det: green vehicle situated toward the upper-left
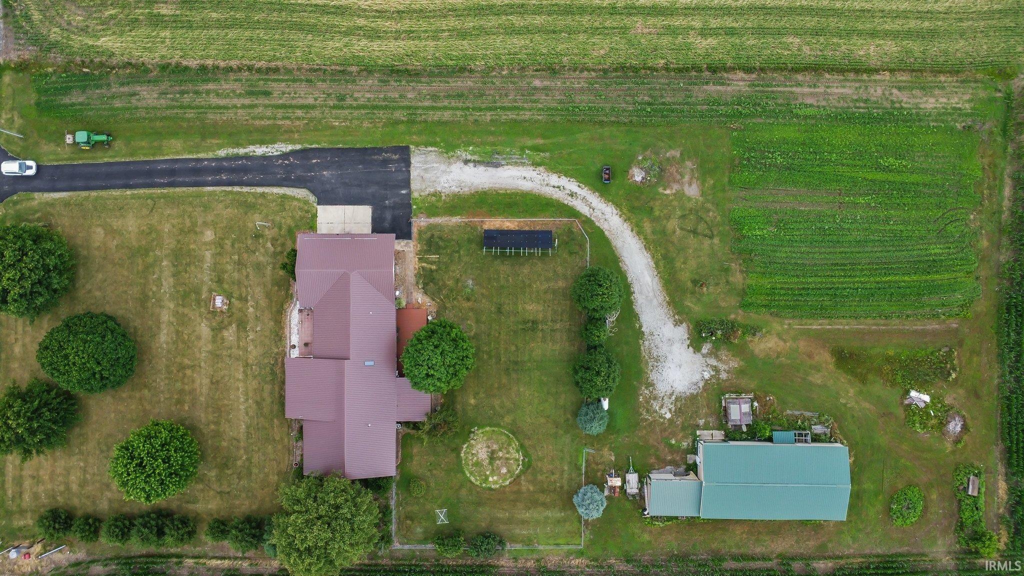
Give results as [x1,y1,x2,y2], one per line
[76,129,114,150]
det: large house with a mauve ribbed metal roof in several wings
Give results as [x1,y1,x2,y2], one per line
[284,234,433,480]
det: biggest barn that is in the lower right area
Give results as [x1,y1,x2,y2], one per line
[694,438,853,521]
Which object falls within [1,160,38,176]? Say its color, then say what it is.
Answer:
white car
